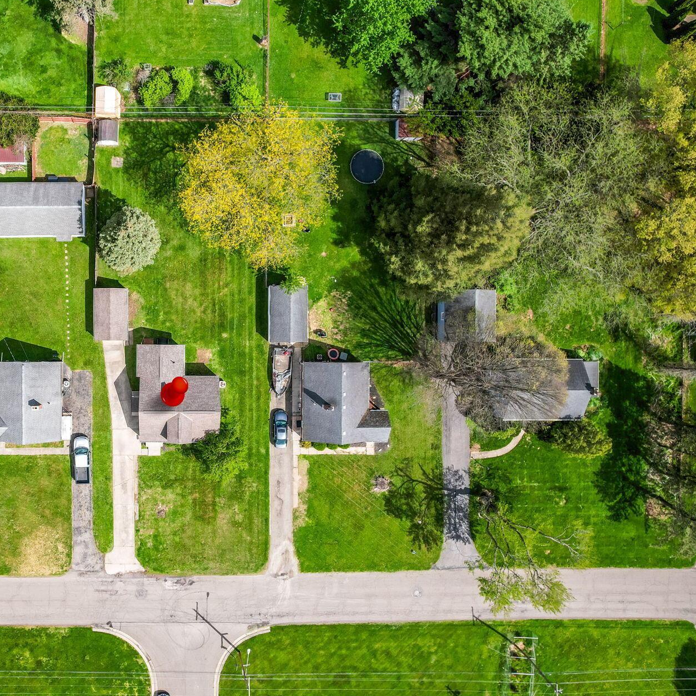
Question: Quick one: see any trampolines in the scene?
Yes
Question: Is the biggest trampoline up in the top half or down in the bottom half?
top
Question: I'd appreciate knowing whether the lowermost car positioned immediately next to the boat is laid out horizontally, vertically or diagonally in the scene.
vertically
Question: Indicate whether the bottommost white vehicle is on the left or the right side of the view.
left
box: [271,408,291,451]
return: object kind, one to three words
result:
car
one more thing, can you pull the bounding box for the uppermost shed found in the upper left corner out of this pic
[95,83,120,123]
